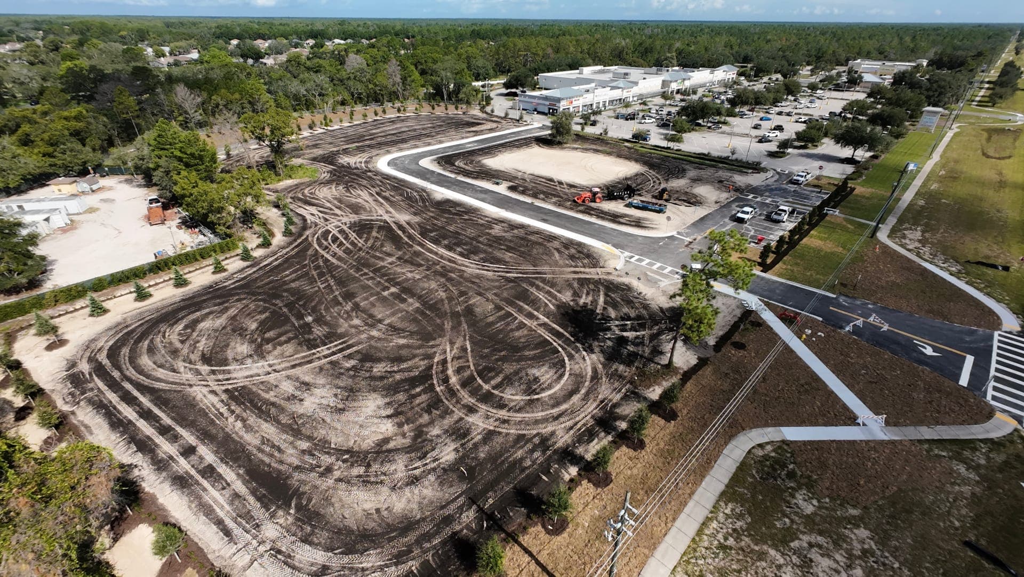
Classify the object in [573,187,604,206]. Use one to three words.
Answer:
work vehicle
